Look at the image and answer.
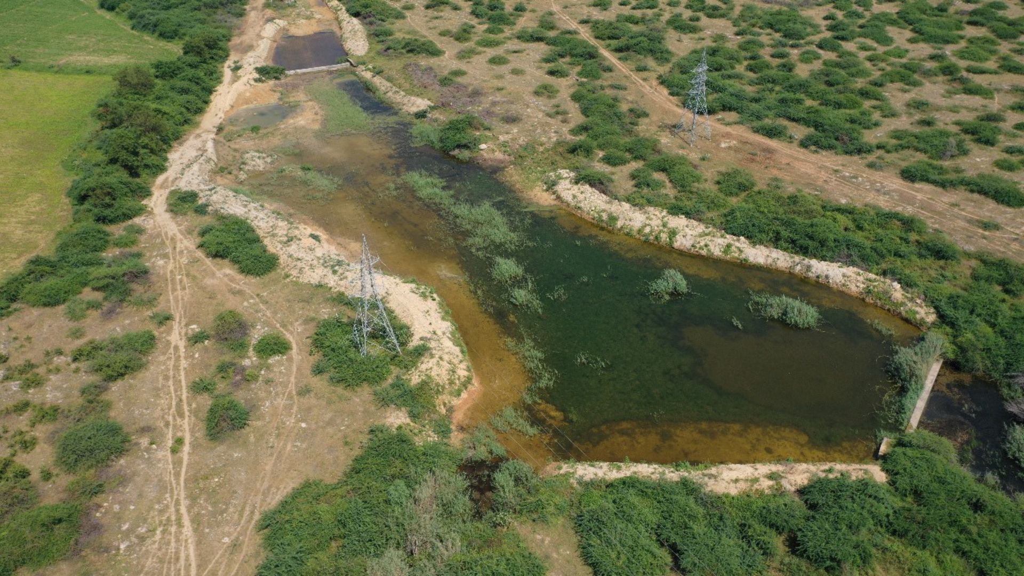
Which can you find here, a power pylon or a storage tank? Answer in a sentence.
It is a power pylon that can be seen here.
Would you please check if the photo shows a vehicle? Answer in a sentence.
No, there is no vehicle in the image.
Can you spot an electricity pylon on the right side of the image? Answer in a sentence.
Yes, an electricity pylon can be seen on the right side of the image.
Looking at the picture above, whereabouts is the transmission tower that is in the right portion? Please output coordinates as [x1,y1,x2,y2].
[673,48,713,145]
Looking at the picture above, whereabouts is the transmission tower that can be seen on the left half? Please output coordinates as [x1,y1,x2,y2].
[348,233,400,356]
